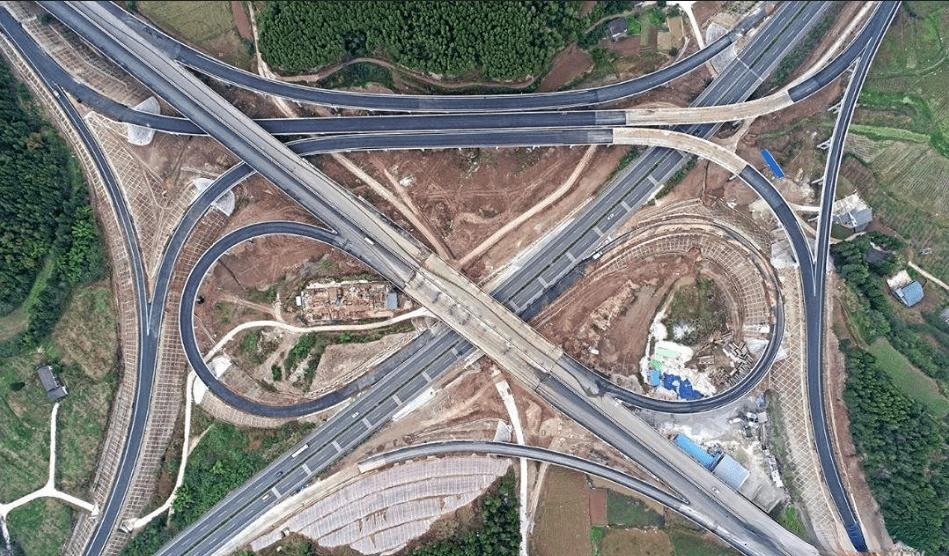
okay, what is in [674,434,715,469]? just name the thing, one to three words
shed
